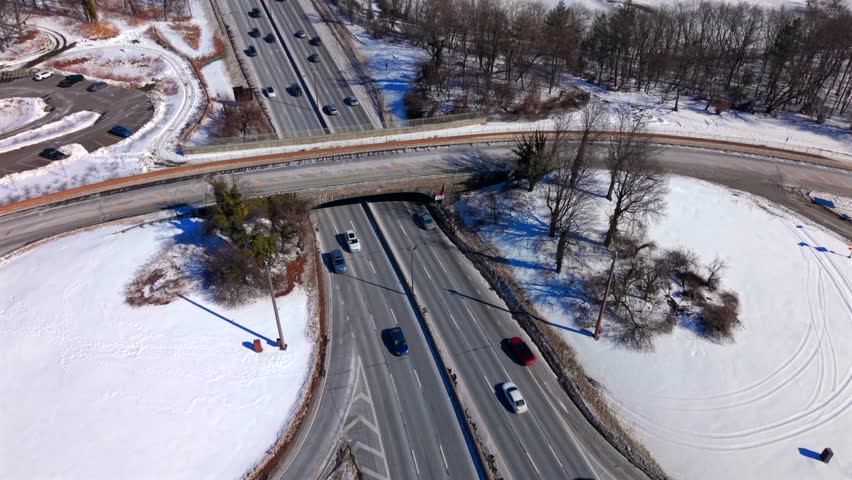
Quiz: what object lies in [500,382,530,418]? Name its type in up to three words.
car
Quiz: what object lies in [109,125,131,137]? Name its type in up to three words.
vehicle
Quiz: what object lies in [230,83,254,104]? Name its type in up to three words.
shed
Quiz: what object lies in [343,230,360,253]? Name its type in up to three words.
car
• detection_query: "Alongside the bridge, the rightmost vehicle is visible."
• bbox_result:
[418,213,436,231]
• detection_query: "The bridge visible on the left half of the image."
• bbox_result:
[181,116,491,213]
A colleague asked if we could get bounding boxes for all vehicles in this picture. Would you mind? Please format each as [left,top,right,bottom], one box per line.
[347,97,359,107]
[109,125,131,137]
[267,32,276,42]
[297,32,306,38]
[86,82,107,92]
[32,71,55,81]
[326,105,339,116]
[508,338,536,369]
[291,82,302,96]
[330,252,347,274]
[386,326,409,359]
[418,213,436,231]
[500,382,530,418]
[57,75,83,87]
[343,230,360,253]
[311,55,321,62]
[265,87,276,97]
[311,37,321,46]
[252,27,260,36]
[38,148,66,160]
